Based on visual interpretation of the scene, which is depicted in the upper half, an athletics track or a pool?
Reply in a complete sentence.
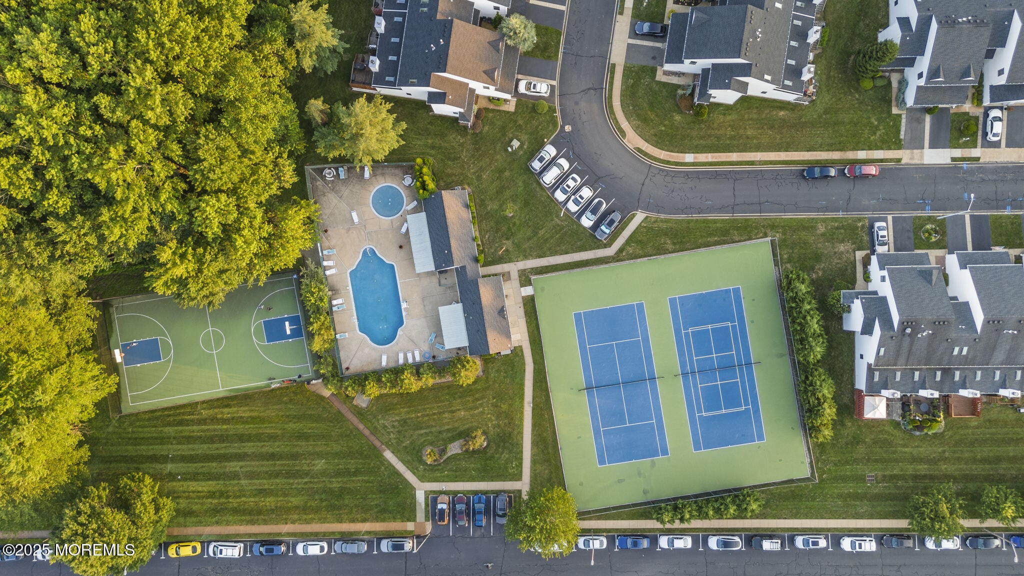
The feature located in the upper half is a pool.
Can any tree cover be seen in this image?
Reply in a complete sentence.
Yes, the picture does contain tree cover.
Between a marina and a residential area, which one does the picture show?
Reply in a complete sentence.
This image shows a residential area.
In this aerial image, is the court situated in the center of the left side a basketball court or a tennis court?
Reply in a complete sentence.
The court situated in the center of the left side can be classified as a basketball court.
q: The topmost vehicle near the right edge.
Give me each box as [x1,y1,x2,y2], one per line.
[985,109,1004,142]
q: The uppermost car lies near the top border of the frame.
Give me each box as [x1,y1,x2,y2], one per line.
[634,20,667,37]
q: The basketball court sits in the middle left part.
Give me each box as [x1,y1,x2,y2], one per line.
[105,274,314,415]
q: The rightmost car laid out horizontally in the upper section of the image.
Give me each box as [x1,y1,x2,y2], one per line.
[845,163,878,178]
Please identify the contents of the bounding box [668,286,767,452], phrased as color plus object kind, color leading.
blue tennis court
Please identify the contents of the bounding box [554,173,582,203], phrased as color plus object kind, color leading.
white car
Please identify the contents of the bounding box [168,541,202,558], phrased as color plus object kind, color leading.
yellow car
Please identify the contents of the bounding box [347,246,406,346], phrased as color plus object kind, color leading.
blue swimming pool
